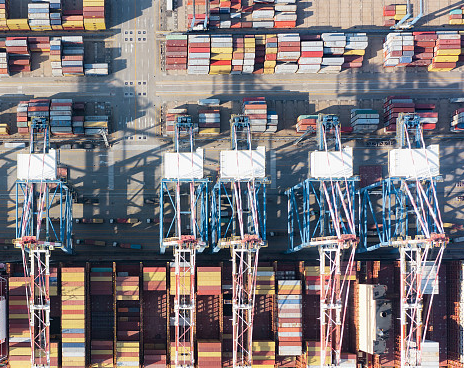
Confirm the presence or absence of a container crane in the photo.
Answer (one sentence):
Yes, there is a container crane in the image.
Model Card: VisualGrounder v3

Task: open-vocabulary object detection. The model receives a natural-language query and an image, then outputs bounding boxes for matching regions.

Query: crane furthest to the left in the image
[13,116,77,368]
